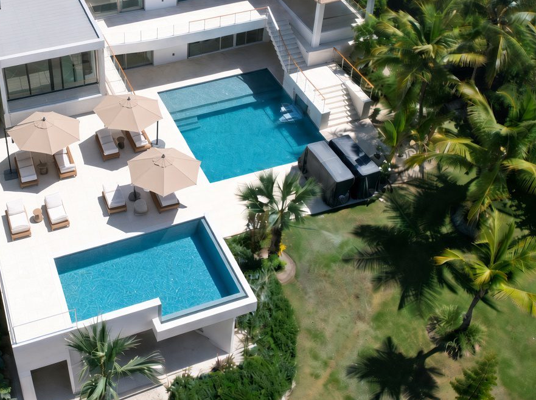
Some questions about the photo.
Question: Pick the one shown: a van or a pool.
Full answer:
This aerial view contains a pool.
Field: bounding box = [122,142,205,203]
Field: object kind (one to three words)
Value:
umbrella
